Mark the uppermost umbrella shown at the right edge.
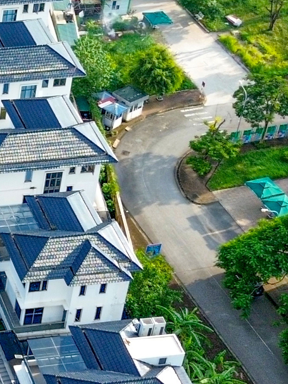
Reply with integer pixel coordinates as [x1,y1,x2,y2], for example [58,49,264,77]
[243,177,287,206]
